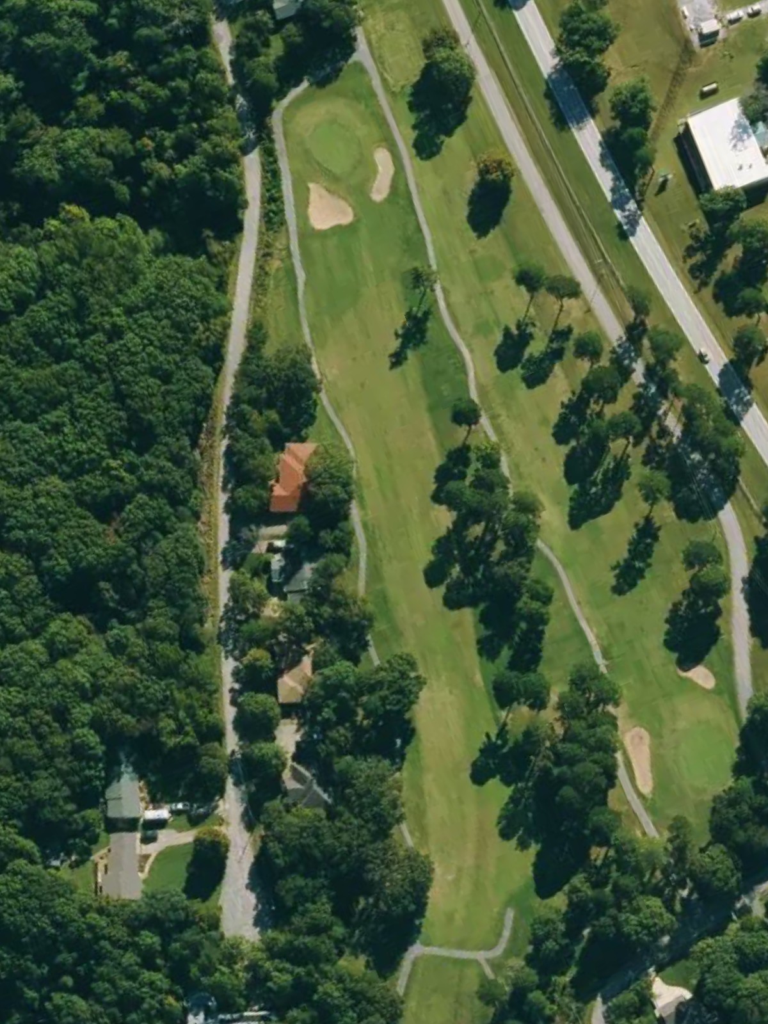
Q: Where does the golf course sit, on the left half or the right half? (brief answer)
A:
right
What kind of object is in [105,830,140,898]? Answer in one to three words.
house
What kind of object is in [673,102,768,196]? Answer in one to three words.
building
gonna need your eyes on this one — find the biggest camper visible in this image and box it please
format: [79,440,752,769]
[145,810,173,822]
